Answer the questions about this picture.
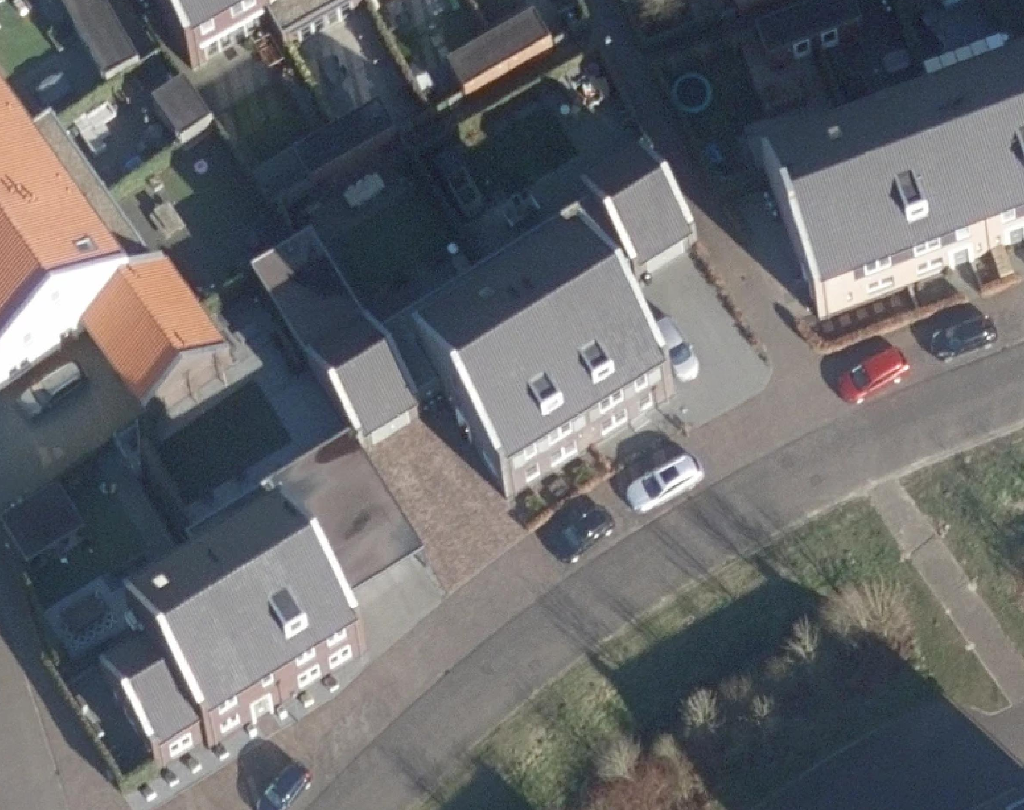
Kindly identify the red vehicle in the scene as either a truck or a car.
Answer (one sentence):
It looks like the red vehicle is a car.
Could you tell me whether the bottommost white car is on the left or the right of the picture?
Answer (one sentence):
The bottommost white car appears in the right half of the scene.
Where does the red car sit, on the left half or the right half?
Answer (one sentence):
The red car is on the right side of the image.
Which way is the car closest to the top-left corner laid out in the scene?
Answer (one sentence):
The car closest to the top-left corner has been laid out diagonally relative to the frame.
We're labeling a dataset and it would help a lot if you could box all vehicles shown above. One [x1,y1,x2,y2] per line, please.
[627,452,707,518]
[545,502,618,565]
[250,763,319,810]
[838,350,910,407]
[926,309,1004,365]
[16,356,92,421]
[652,312,698,386]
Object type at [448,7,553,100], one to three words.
shed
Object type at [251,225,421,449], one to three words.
building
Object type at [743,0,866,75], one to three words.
house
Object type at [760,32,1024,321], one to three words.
house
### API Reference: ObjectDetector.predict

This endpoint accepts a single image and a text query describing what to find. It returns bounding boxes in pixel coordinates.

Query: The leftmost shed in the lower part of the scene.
[3,484,83,572]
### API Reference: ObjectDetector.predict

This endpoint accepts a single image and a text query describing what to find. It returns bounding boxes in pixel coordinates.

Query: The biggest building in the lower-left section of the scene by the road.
[121,483,367,751]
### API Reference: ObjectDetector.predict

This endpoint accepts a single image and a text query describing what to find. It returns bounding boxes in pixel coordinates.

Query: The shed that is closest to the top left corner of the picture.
[66,0,139,85]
